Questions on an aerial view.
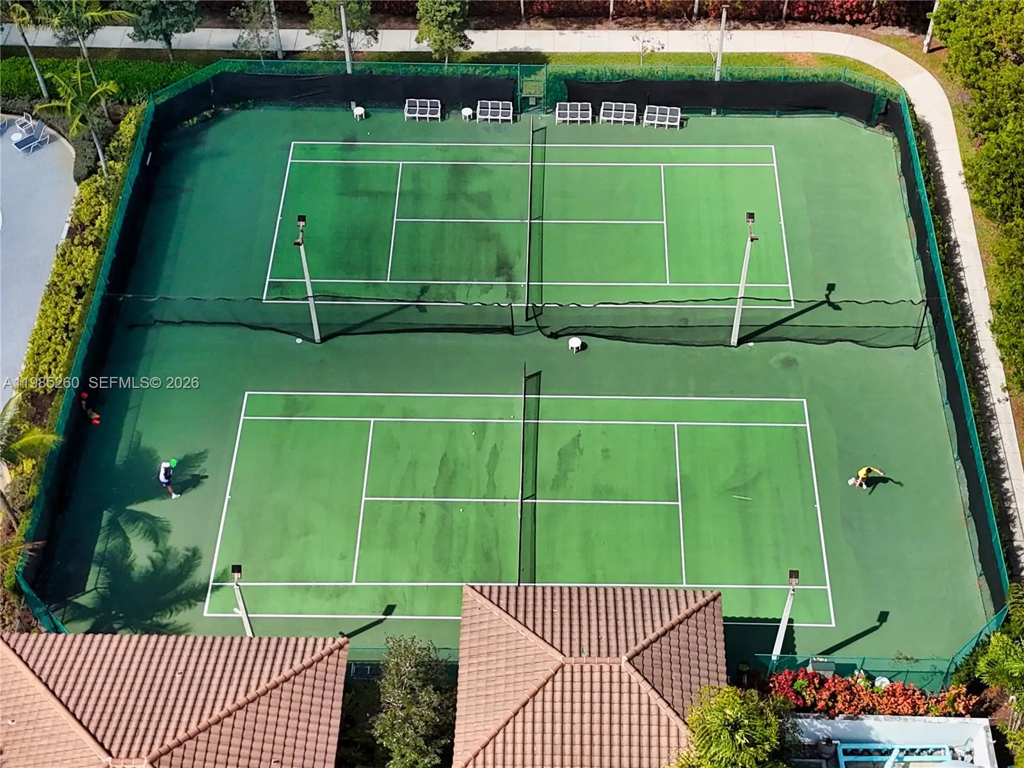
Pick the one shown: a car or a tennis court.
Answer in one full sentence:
The image shows a tennis court.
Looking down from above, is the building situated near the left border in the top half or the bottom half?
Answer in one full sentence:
It is in the bottom half that the building situated near the left border appears.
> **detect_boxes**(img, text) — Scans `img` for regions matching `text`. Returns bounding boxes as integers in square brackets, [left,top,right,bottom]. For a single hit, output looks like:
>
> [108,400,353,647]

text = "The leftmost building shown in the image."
[0,626,353,768]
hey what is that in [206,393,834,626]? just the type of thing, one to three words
tennis court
